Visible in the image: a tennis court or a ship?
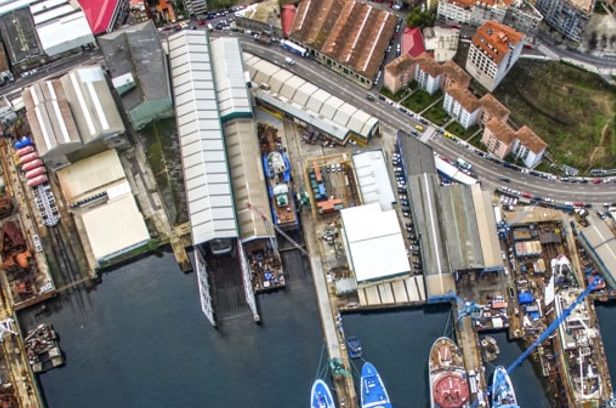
ship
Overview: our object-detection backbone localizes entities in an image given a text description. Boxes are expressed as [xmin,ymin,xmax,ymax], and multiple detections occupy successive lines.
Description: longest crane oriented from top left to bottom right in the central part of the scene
[238,194,308,255]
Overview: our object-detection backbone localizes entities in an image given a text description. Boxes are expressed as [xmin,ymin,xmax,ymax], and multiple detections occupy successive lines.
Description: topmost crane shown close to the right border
[502,270,610,376]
